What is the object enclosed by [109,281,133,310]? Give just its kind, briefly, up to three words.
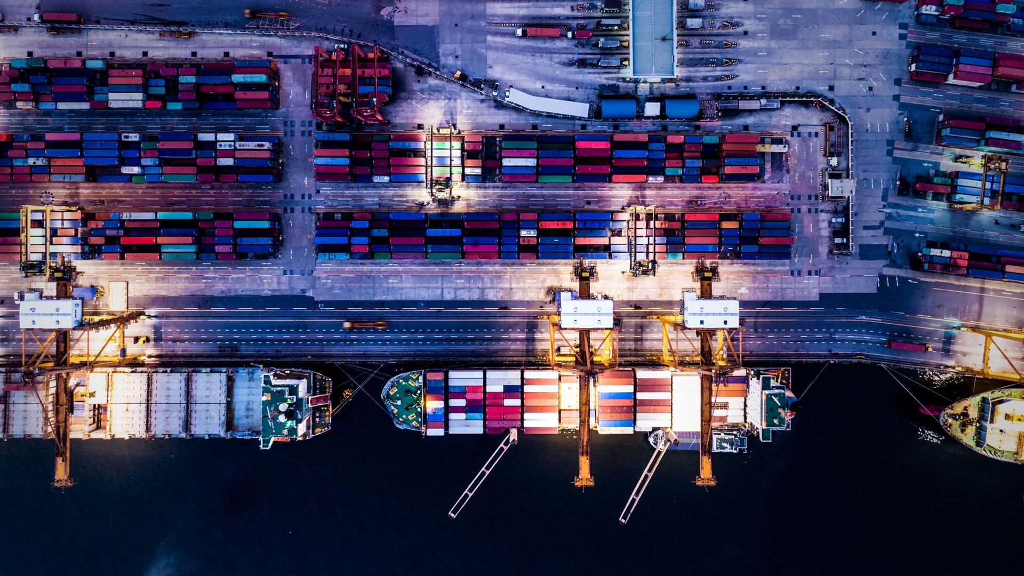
shed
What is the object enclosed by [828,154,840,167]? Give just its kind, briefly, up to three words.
vehicle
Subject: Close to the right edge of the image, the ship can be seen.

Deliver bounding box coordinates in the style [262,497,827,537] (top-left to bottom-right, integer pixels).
[918,387,1024,465]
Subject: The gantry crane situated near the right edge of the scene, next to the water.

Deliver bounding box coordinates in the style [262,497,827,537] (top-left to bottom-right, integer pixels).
[951,325,1024,391]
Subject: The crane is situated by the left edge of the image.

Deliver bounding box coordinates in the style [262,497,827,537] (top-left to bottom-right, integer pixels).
[26,252,157,495]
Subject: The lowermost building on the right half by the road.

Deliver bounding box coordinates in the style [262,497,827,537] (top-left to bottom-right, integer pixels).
[826,171,854,201]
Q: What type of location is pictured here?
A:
port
